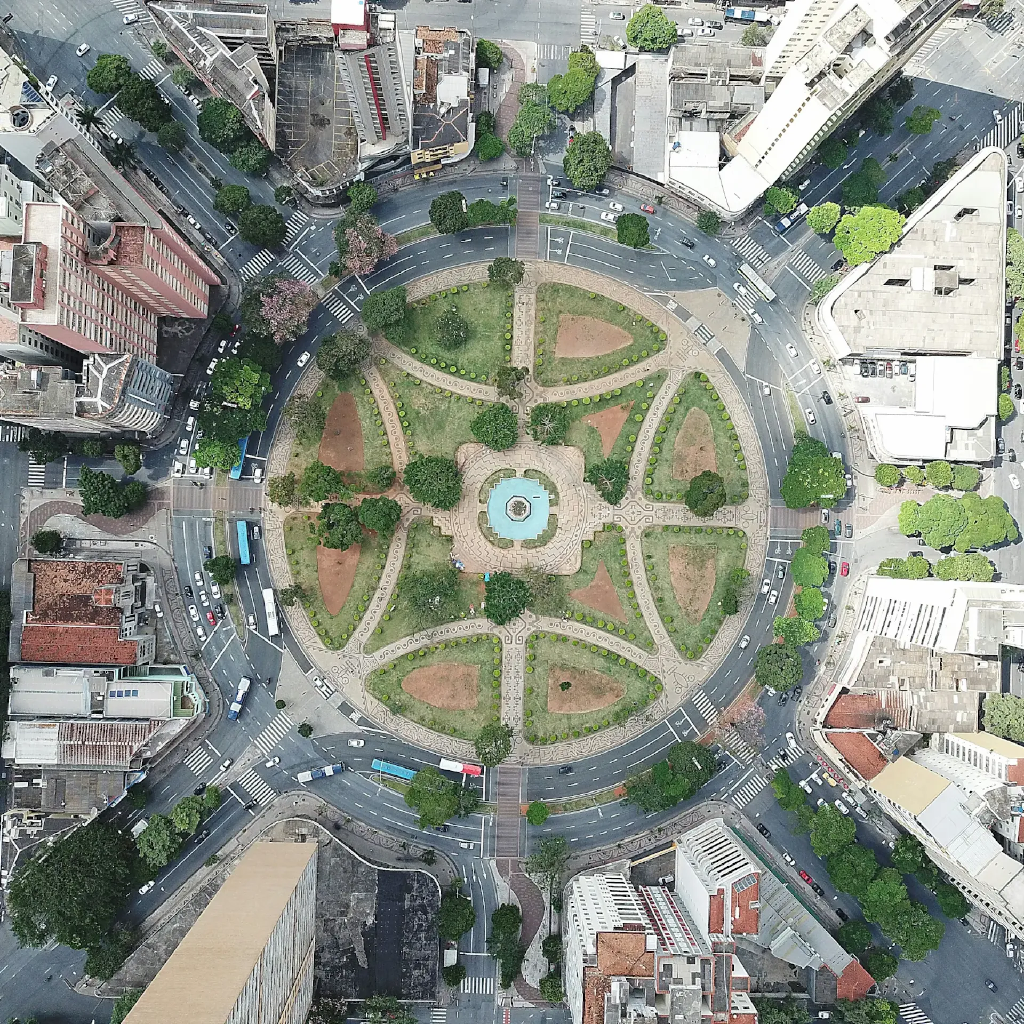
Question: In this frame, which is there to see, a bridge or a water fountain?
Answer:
water fountain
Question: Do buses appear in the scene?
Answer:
Yes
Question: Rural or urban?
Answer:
urban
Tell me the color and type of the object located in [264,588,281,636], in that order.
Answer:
white vehicle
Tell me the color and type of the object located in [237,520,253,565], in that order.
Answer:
blue vehicle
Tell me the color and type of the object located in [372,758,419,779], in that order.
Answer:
blue bus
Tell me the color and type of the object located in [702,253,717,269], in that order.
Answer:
white car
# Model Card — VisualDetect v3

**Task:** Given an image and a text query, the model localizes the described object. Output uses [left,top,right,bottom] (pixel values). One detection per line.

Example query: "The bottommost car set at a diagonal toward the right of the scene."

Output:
[984,977,997,992]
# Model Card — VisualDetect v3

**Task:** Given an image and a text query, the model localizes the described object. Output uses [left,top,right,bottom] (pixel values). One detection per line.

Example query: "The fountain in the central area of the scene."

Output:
[487,477,550,541]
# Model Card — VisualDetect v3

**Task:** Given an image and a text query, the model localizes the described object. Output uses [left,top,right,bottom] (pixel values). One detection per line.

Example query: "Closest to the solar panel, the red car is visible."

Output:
[798,868,813,884]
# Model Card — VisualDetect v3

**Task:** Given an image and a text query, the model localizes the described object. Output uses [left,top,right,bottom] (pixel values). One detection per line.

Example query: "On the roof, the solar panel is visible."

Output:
[733,874,756,893]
